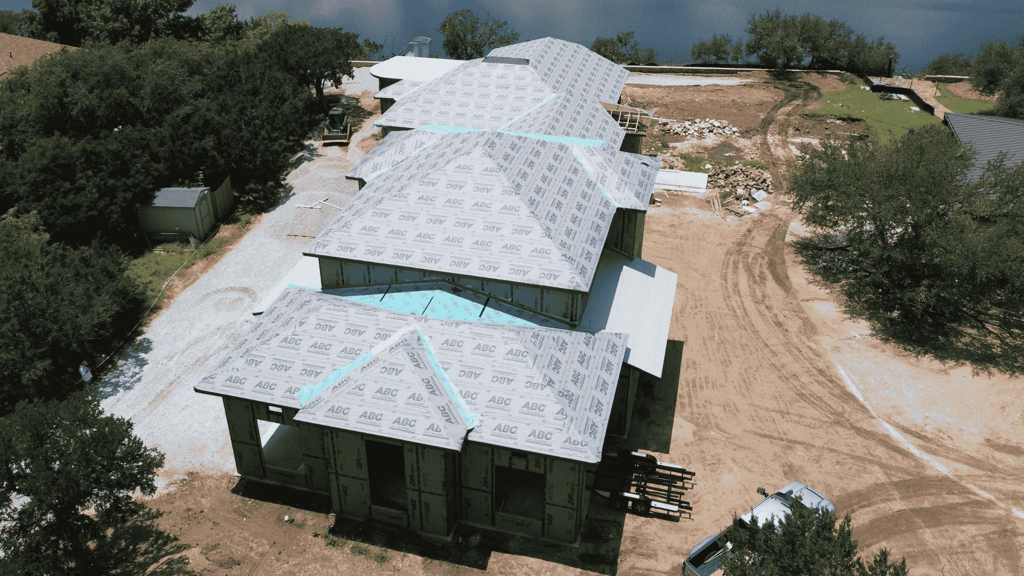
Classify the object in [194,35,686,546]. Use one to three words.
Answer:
house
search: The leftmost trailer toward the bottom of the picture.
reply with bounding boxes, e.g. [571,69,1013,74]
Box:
[588,454,705,517]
